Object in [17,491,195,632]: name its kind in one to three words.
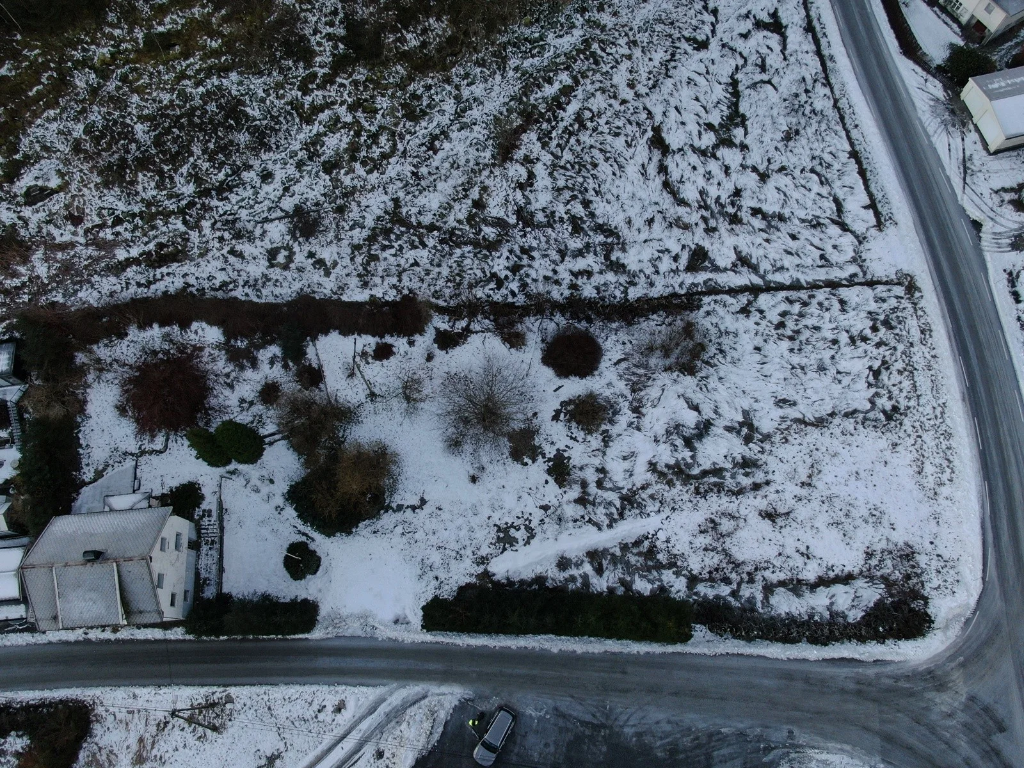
house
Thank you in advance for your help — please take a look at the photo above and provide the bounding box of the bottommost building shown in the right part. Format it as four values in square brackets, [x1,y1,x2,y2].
[960,66,1024,150]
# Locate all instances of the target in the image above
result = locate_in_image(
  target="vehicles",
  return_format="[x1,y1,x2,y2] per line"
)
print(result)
[473,705,517,767]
